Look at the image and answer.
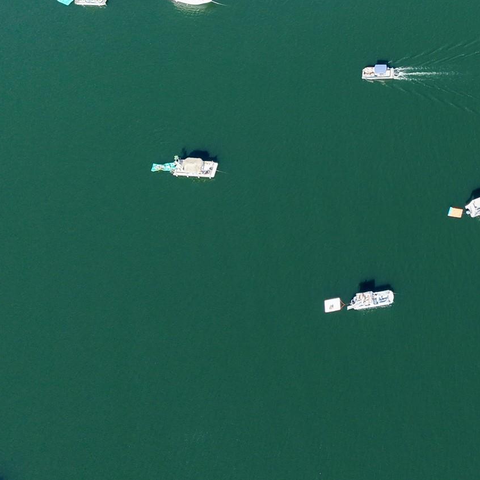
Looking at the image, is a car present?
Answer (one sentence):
No, there isn't any car down there.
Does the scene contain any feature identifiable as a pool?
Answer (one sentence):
No, there's no pool here.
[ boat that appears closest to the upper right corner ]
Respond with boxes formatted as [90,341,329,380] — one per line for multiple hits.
[362,65,397,79]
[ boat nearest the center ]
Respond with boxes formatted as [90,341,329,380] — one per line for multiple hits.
[172,157,219,178]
